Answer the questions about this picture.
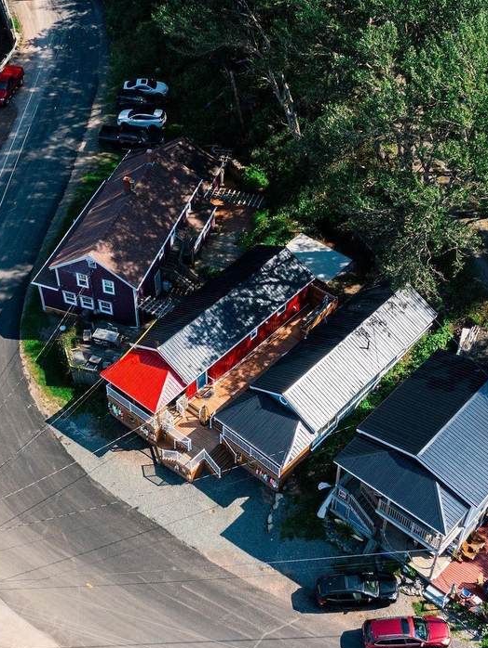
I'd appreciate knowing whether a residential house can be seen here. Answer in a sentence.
Yes, there is a residential house in the image.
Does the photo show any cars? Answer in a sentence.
Yes, this view includes a car.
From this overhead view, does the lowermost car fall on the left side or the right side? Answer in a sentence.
It is on the right.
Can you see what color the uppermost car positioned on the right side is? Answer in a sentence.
From above, the uppermost car positioned on the right side appears black.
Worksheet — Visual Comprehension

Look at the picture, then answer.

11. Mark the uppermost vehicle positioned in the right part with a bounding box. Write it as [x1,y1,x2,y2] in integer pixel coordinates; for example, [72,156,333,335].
[314,560,406,606]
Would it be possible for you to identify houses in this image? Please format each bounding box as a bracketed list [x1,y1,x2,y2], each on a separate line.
[318,346,488,575]
[30,129,220,333]
[99,244,317,441]
[214,280,439,491]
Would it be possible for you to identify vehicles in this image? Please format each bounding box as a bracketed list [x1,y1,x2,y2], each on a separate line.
[115,106,170,130]
[119,74,171,98]
[314,560,406,606]
[354,605,453,648]
[0,62,27,103]
[113,89,165,111]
